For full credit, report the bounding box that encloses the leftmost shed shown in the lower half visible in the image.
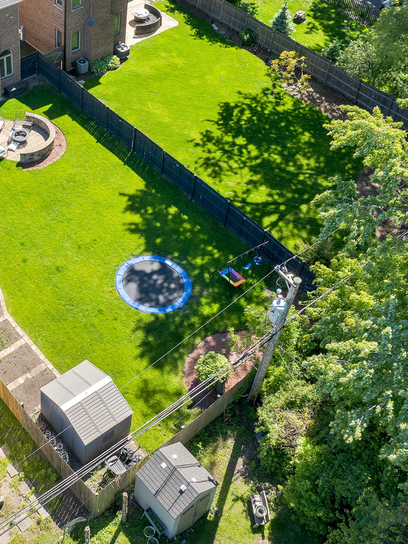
[41,361,134,464]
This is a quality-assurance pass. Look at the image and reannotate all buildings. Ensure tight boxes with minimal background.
[136,443,218,537]
[19,0,127,65]
[41,361,134,464]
